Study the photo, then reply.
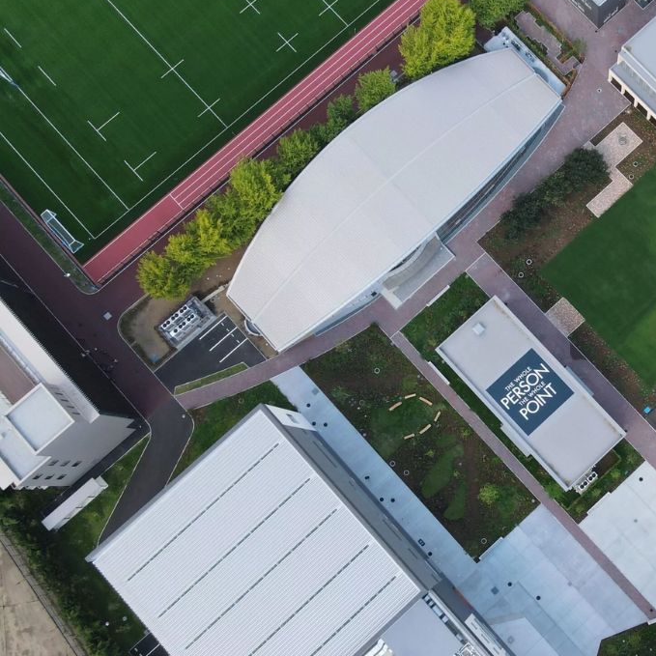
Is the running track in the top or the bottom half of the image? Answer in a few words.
top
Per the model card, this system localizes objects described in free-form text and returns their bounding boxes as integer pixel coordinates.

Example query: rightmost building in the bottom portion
[436,297,627,491]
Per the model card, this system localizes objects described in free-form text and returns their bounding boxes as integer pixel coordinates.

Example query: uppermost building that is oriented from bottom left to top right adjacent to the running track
[225,26,571,352]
